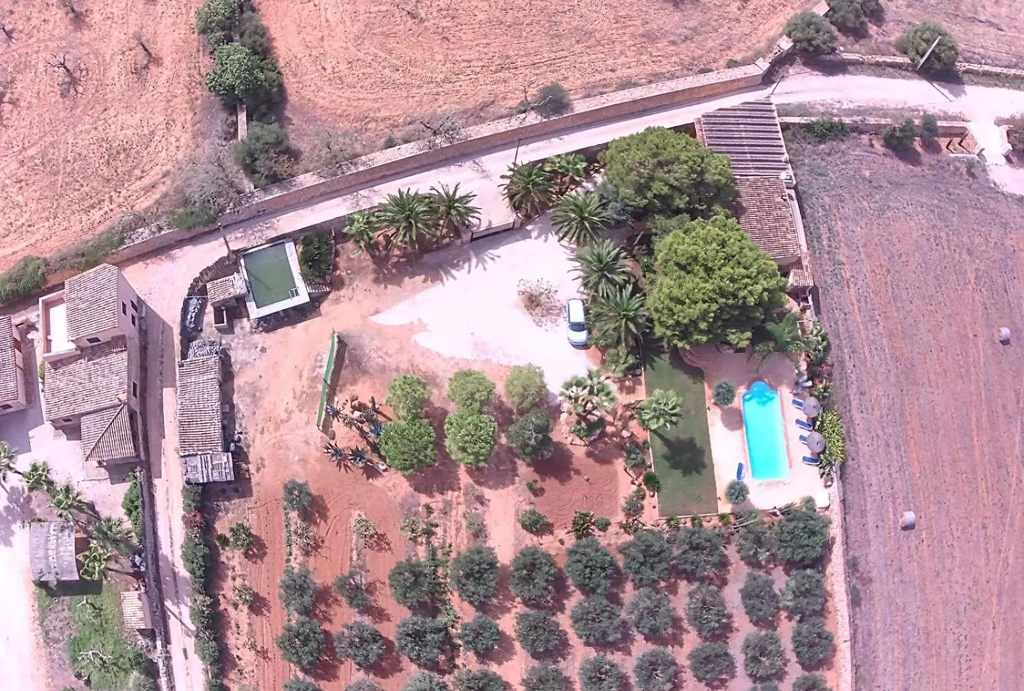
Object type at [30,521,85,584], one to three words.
shed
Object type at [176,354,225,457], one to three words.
barn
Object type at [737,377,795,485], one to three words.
swimming pool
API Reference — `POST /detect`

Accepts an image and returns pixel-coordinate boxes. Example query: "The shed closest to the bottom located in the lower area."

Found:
[120,593,150,630]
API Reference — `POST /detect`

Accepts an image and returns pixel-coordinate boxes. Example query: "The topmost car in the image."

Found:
[566,300,591,349]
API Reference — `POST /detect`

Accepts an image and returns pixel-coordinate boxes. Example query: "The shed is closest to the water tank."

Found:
[206,271,247,307]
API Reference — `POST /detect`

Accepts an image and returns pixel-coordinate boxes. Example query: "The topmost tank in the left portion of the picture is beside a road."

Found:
[239,237,312,325]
